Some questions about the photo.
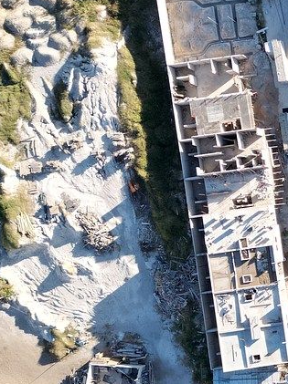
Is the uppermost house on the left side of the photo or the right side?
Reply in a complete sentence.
It is on the right.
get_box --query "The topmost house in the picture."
[177,56,261,103]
